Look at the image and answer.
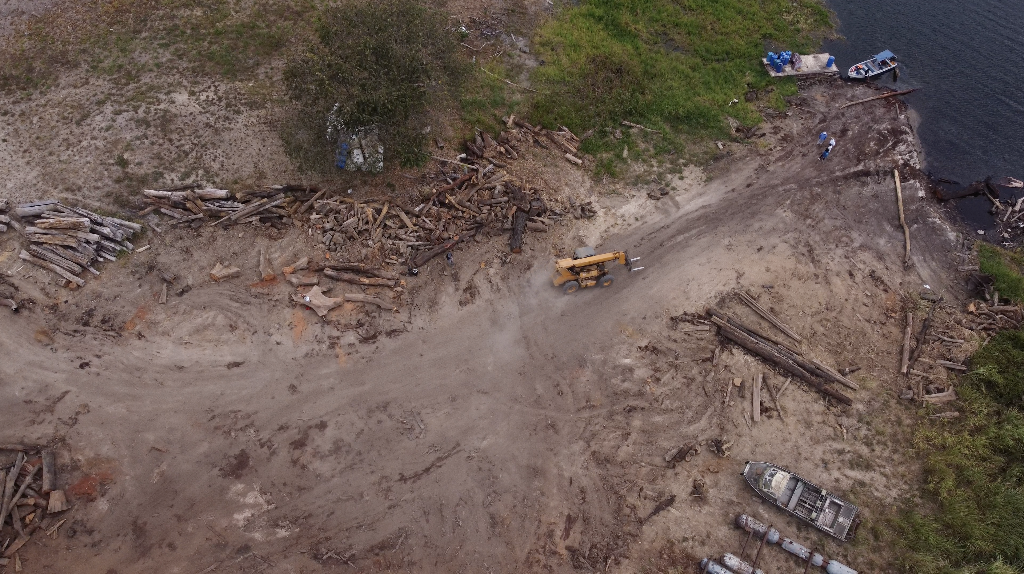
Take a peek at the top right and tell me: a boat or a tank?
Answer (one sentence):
It is a boat that can be seen at the top right.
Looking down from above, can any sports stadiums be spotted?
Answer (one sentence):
No, the photo shows no sports stadium.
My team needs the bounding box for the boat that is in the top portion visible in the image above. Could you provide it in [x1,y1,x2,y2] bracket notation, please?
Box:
[847,48,901,77]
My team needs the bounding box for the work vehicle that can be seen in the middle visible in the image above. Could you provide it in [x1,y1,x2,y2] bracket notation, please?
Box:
[552,248,645,297]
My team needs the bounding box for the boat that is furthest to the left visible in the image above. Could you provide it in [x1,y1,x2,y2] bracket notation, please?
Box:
[741,459,861,543]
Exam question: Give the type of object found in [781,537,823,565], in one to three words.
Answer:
storage tank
